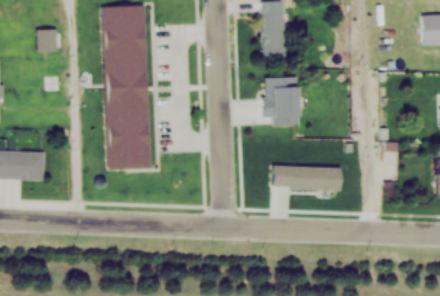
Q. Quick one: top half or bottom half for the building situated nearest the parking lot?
top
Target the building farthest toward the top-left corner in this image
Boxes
[36,30,58,52]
